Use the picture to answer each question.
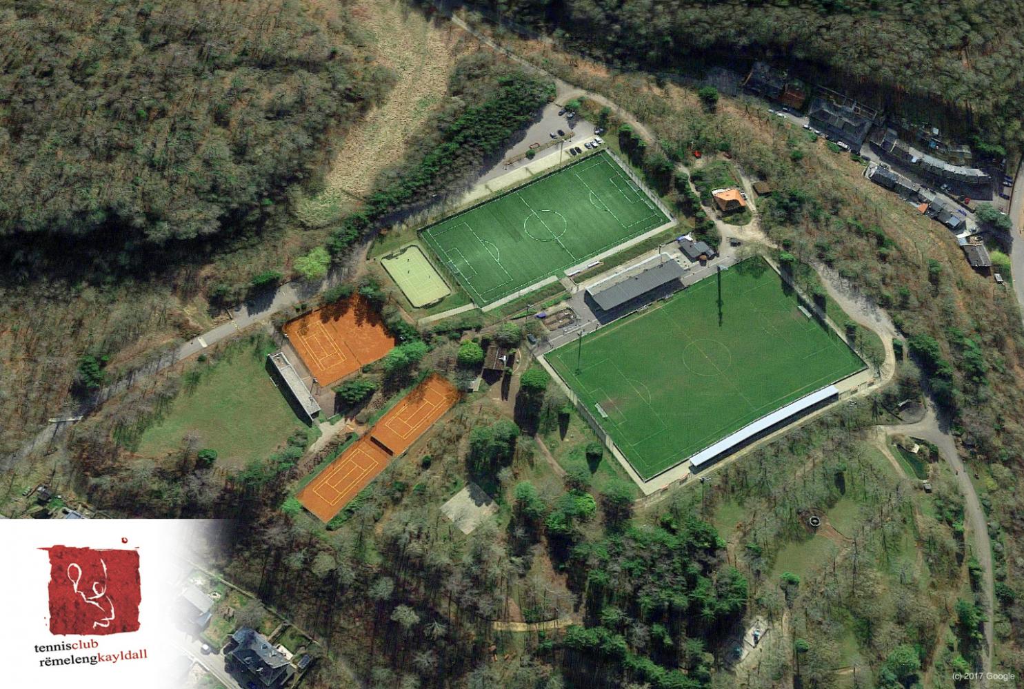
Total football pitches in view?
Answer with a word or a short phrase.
2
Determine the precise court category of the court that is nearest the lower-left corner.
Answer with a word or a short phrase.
tennis court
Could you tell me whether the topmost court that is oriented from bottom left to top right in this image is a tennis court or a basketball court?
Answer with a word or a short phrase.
tennis court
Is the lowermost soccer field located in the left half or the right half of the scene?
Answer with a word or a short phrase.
right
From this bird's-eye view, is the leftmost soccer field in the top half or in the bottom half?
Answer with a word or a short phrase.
top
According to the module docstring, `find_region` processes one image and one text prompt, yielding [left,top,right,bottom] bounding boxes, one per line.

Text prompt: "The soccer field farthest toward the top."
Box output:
[419,150,671,308]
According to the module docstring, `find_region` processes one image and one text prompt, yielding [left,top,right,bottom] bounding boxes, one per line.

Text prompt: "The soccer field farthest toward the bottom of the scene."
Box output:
[545,256,867,480]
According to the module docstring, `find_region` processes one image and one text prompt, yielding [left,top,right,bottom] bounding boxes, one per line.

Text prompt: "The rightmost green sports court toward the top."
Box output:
[381,244,451,307]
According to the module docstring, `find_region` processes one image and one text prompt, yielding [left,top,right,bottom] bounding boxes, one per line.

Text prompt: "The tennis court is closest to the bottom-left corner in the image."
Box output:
[297,435,393,523]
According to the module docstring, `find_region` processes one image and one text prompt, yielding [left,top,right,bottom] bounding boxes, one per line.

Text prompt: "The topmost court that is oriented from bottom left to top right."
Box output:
[372,373,460,458]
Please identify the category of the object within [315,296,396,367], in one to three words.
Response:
tennis court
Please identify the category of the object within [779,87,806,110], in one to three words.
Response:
house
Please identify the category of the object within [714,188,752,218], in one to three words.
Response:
house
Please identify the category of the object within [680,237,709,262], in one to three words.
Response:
building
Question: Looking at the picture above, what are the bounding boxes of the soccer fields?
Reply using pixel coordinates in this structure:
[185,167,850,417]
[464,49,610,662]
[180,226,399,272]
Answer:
[419,150,671,308]
[545,256,867,480]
